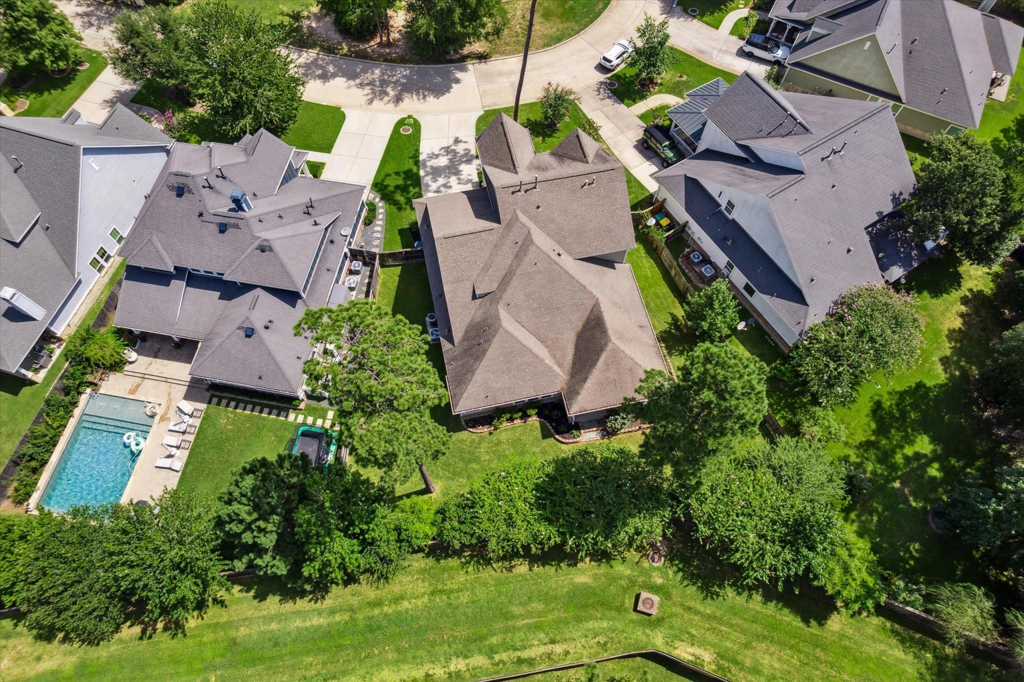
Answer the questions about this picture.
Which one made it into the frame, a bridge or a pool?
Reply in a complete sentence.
I can see a pool in this picture.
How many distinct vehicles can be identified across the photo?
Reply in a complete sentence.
The count of vehicles comes to 3.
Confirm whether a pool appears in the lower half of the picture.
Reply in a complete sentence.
Yes, you'll find a pool in the lower half of the picture.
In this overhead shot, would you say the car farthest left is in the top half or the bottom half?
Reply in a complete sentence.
Seen from above, the car farthest left lies in the top half of the view.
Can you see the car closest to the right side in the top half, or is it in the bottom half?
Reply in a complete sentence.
The car closest to the right side sits in the top half of the picture.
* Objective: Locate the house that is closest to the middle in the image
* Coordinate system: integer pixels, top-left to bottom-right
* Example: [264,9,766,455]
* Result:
[412,112,668,428]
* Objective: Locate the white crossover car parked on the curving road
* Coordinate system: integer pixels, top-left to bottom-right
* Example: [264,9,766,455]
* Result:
[597,36,637,69]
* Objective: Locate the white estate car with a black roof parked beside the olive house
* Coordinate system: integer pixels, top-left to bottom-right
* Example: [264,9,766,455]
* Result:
[742,27,792,64]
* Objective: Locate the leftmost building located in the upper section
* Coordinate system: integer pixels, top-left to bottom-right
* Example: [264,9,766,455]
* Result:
[0,103,176,381]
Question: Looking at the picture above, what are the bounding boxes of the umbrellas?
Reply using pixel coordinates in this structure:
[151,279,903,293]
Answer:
[173,408,192,422]
[162,442,182,456]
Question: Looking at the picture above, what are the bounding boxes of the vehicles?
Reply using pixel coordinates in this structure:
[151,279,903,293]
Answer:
[641,119,687,167]
[597,36,637,69]
[742,27,792,64]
